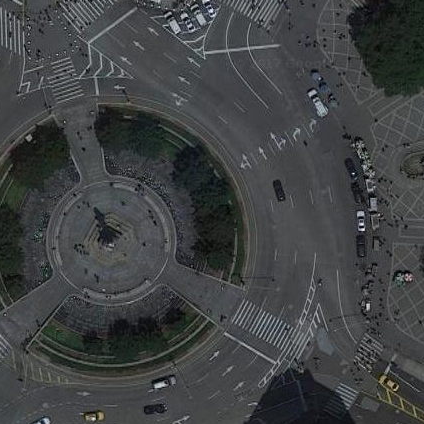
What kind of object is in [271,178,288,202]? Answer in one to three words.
car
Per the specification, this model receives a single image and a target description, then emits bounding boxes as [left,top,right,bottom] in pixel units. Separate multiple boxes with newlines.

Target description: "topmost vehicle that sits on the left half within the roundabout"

[151,374,177,390]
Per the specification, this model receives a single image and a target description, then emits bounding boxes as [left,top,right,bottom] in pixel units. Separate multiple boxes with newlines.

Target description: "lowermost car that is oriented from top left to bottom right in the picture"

[378,374,401,393]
